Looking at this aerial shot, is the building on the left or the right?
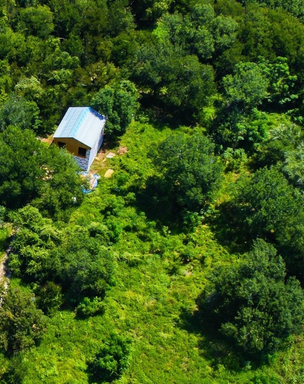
left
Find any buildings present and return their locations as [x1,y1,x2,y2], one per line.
[52,108,106,169]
